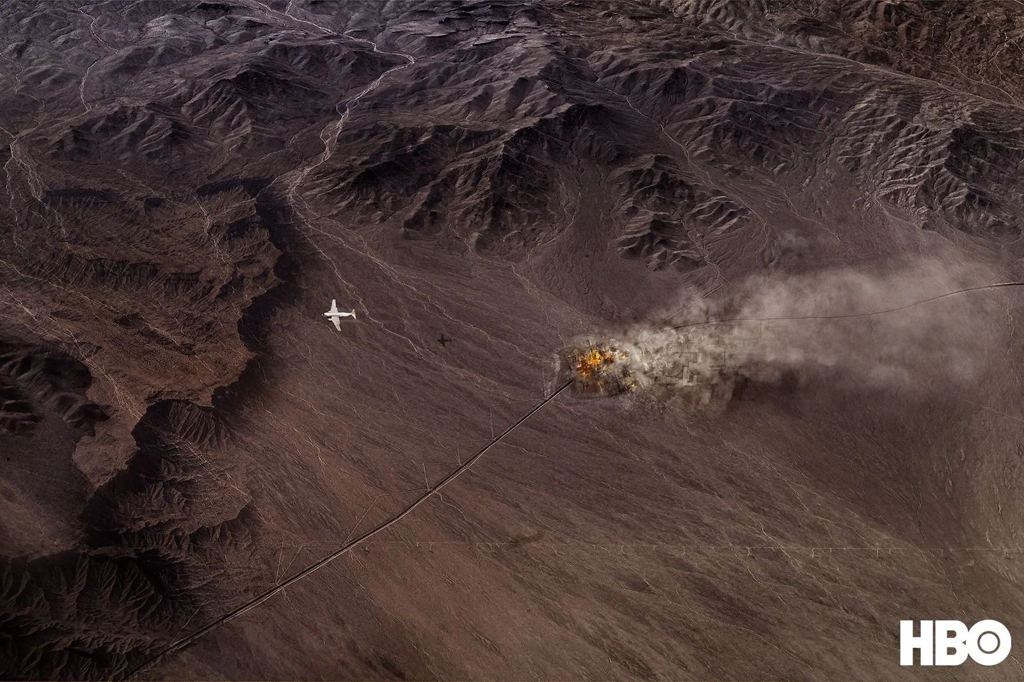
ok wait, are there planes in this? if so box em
[322,298,356,331]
